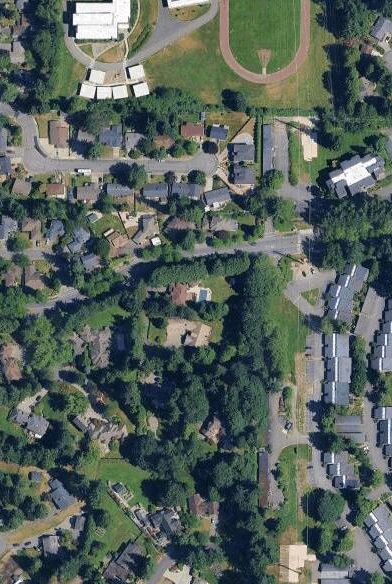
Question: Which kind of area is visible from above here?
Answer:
residential area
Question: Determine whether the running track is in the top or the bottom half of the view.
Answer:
top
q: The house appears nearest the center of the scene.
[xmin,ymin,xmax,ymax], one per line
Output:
[170,282,196,306]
